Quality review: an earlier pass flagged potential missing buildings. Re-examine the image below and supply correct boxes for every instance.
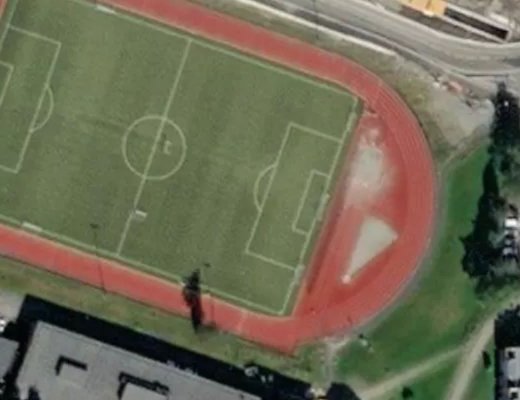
[5,320,269,400]
[0,338,18,385]
[494,345,520,400]
[398,0,510,43]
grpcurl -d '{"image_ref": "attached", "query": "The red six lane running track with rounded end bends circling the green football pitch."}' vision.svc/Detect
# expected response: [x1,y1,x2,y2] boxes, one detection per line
[0,0,438,356]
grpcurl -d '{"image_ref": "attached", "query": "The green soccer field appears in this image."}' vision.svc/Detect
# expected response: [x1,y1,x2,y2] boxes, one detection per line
[0,0,363,316]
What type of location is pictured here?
sports ground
